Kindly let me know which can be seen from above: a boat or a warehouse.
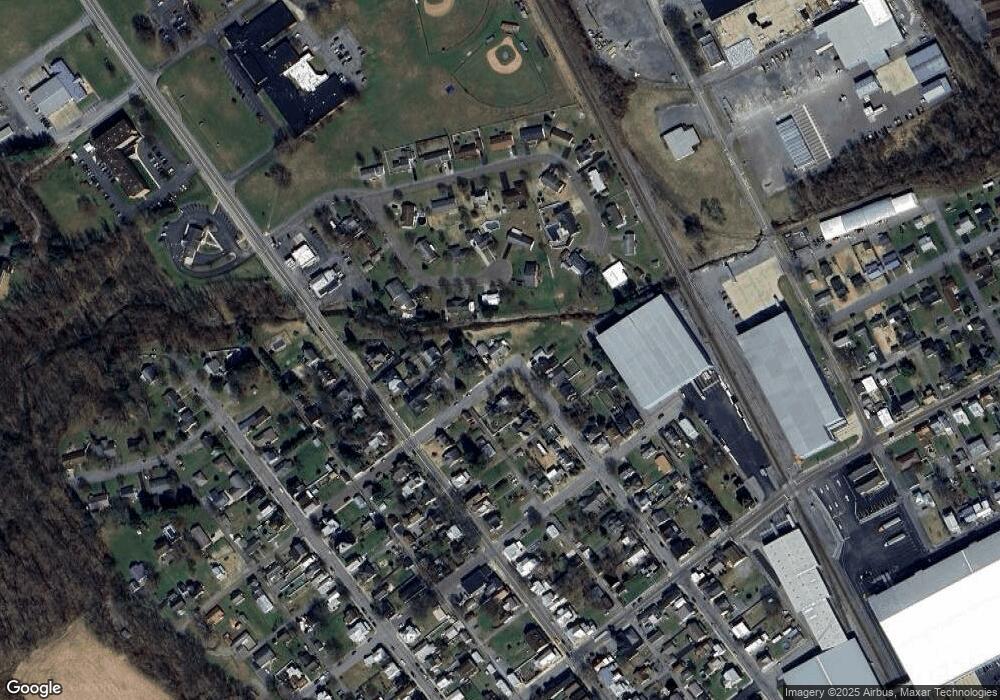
warehouse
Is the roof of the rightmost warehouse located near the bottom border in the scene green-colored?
No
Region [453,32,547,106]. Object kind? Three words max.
baseball field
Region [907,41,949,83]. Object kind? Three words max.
shed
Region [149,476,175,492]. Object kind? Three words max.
house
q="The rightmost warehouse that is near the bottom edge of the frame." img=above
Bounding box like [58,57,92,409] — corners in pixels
[868,532,1000,698]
